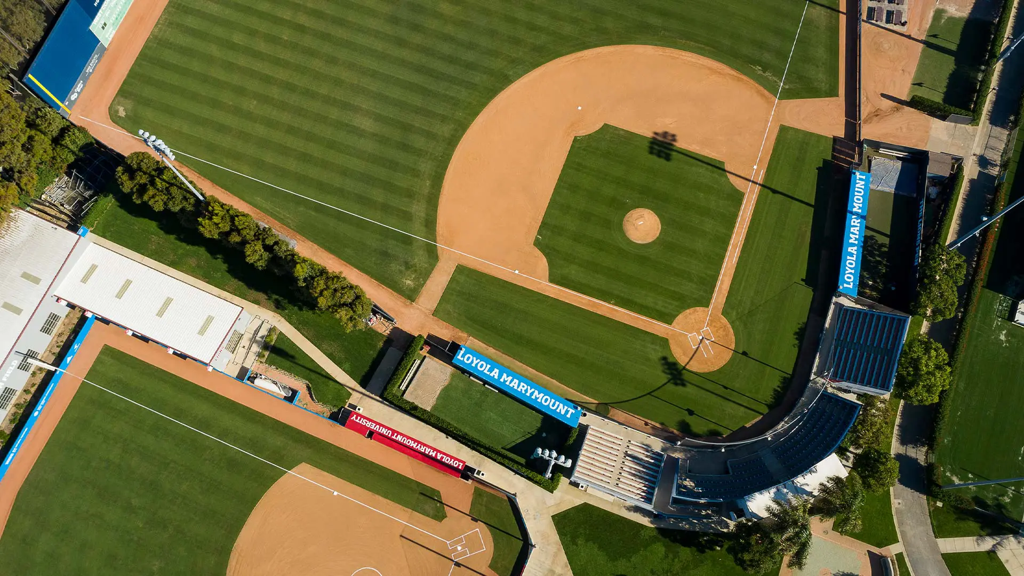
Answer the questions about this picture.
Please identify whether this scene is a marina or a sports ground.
sports ground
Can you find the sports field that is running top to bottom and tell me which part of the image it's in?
right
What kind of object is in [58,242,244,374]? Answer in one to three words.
building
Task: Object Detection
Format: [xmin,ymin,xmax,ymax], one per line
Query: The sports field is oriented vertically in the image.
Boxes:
[940,126,1024,522]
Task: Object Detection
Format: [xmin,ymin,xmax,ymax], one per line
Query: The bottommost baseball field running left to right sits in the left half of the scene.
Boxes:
[0,322,533,576]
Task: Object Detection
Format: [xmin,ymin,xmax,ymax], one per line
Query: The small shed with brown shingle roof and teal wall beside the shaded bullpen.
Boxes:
[920,152,952,183]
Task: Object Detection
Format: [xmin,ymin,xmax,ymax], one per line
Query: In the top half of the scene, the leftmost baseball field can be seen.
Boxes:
[67,0,860,447]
